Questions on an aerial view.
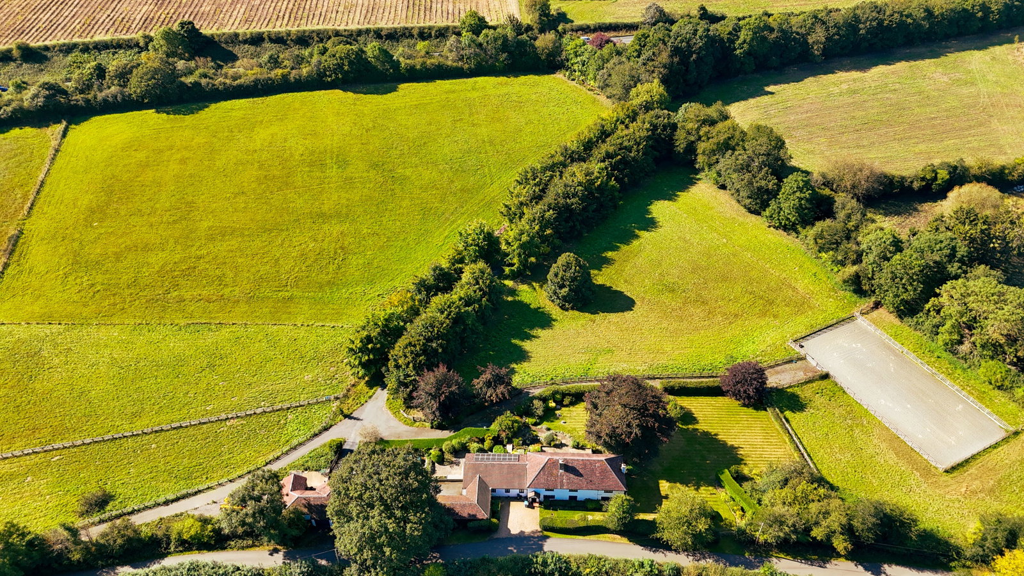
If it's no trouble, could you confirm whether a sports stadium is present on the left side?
No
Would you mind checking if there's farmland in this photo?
Yes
